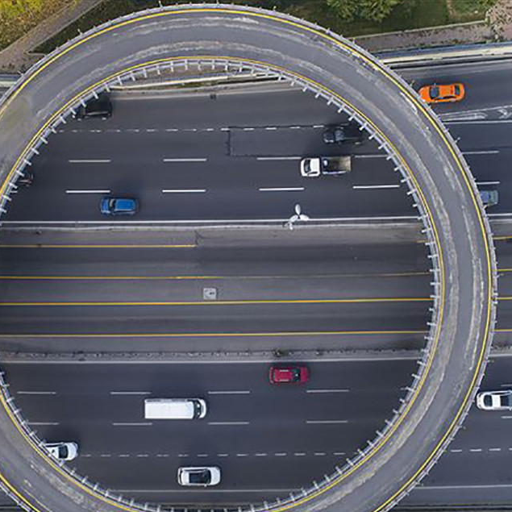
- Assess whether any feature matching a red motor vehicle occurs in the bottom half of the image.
Yes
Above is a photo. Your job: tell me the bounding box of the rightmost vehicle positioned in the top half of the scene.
[481,187,499,207]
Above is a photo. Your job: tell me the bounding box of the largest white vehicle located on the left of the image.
[144,397,207,421]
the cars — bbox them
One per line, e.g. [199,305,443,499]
[418,83,465,105]
[475,388,512,411]
[100,196,138,218]
[73,98,112,118]
[177,465,220,489]
[269,363,308,385]
[323,122,366,146]
[481,187,499,207]
[46,440,79,461]
[13,166,33,186]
